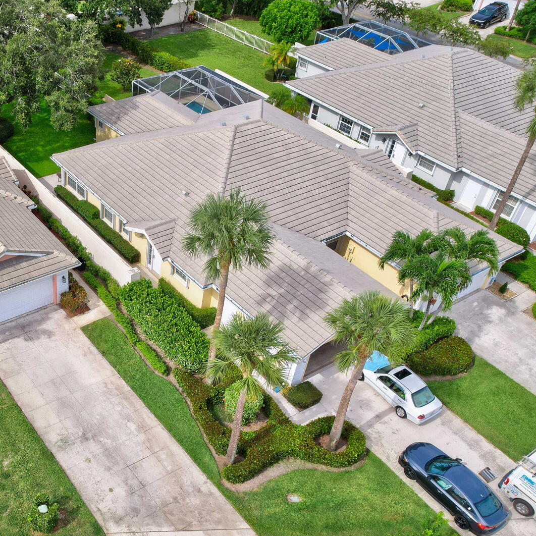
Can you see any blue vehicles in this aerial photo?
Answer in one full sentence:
Yes, I can see a blue vehicle in this picture.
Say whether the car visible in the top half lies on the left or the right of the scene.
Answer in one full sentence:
The car visible in the top half appears in the right half of the scene.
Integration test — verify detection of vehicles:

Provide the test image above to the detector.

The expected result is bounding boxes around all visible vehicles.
[472,2,510,26]
[494,447,536,519]
[360,359,446,424]
[402,446,519,536]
